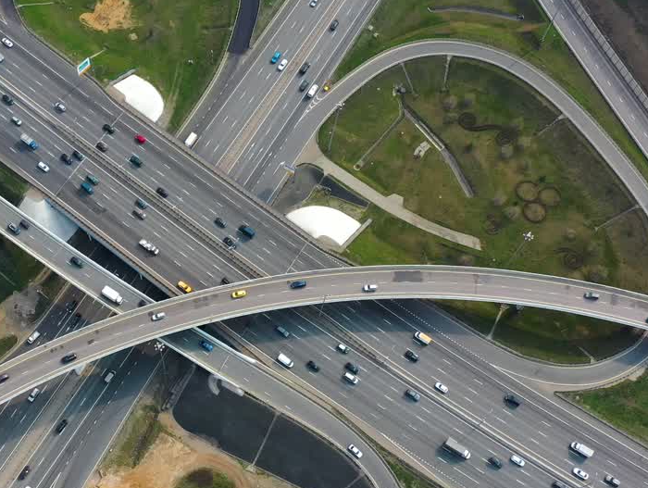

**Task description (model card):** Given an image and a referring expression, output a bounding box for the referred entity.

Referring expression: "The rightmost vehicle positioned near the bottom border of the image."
[603,475,621,488]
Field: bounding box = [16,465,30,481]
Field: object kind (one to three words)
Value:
vehicle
